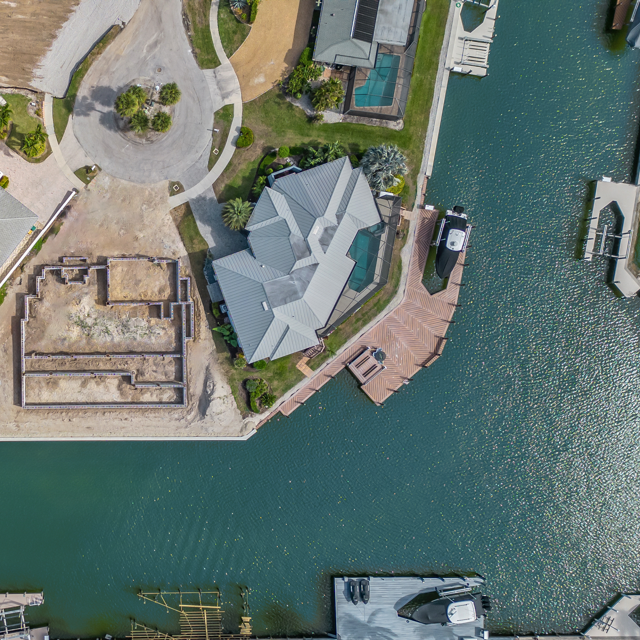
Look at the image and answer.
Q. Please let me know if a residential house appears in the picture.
Yes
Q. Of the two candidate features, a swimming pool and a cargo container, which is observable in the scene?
swimming pool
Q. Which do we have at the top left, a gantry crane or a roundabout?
roundabout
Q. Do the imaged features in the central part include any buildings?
Yes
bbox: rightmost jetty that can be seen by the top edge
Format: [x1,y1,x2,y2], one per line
[604,0,631,31]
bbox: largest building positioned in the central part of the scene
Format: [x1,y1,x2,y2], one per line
[213,156,383,364]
